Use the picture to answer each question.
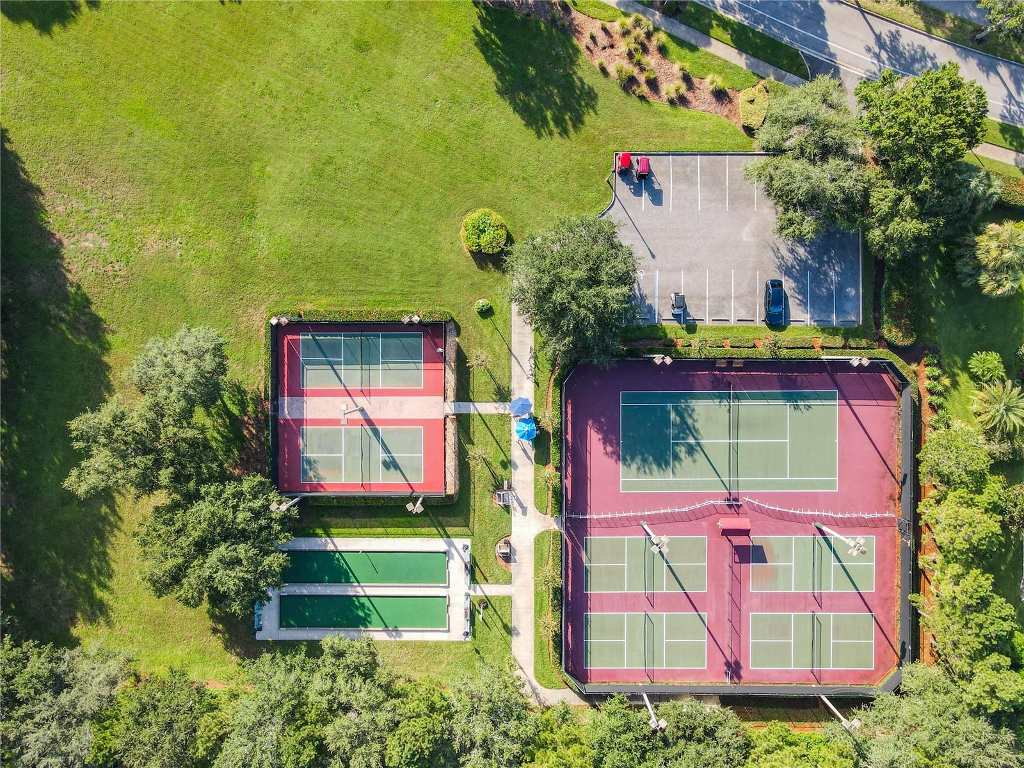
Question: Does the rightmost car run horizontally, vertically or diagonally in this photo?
vertically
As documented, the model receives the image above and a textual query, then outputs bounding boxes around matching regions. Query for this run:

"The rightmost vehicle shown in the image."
[765,280,787,325]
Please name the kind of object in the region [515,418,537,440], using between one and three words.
umbrella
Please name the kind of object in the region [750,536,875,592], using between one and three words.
sports court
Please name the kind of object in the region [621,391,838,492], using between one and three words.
tennis court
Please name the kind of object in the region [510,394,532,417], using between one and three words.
umbrella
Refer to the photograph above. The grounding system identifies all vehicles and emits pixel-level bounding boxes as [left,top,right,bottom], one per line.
[765,280,787,325]
[635,158,649,182]
[616,155,630,179]
[670,293,685,315]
